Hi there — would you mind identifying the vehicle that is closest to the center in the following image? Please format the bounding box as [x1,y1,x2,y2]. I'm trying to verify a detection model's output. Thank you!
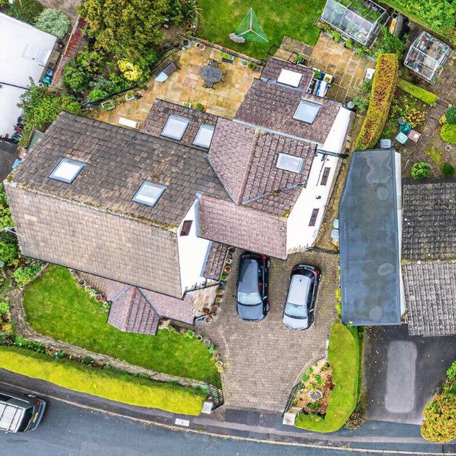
[233,252,273,321]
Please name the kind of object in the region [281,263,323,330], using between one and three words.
car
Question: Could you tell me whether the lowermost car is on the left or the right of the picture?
left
